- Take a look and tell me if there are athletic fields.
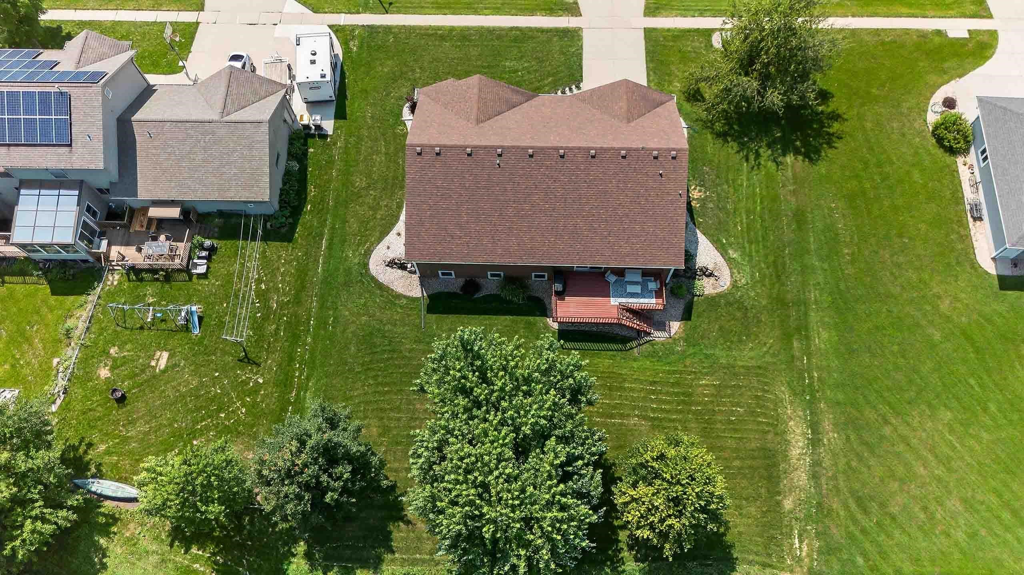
No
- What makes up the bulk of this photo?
grass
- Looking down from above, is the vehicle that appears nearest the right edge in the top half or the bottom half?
top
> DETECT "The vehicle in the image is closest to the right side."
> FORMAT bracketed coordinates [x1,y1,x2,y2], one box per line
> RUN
[293,34,341,107]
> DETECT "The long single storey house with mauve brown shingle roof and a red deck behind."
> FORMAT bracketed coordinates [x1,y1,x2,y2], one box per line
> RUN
[403,74,688,284]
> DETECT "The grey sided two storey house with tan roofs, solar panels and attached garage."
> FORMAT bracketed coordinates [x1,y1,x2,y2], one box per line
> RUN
[0,30,295,216]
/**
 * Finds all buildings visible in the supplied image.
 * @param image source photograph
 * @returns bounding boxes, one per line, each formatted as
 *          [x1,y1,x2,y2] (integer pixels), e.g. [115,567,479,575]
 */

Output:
[0,30,295,216]
[403,74,688,284]
[965,95,1024,280]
